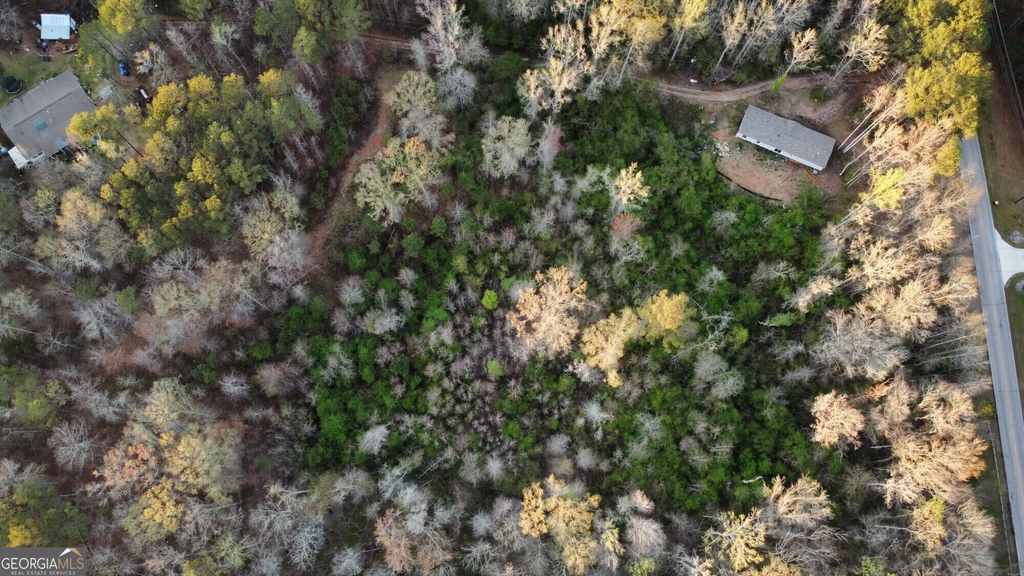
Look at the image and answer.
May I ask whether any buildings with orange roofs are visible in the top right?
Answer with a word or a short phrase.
No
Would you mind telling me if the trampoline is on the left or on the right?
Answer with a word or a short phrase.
left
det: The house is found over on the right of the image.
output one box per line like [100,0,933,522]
[736,104,835,170]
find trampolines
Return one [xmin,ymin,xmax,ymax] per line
[0,71,23,93]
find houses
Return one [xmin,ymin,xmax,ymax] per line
[0,68,106,172]
[736,104,835,170]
